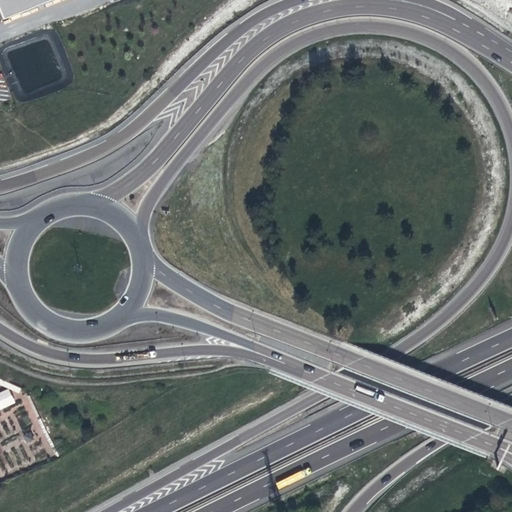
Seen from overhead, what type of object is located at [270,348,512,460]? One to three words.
bridge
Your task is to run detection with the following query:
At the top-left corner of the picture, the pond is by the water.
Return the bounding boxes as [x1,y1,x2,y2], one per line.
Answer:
[0,30,72,100]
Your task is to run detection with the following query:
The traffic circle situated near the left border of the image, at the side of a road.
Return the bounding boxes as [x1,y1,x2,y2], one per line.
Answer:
[3,190,156,344]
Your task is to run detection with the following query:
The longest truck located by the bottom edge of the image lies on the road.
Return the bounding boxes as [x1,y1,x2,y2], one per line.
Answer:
[278,467,312,490]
